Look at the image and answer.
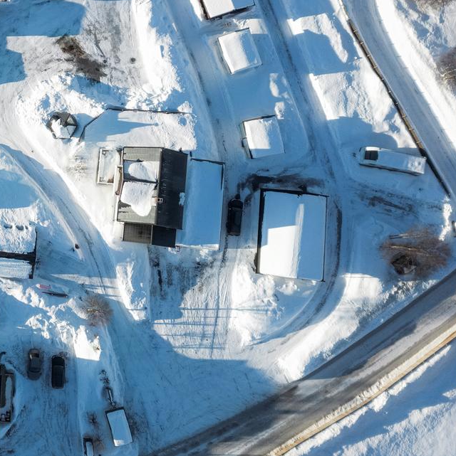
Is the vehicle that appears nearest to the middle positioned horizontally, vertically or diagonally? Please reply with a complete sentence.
What the image shows is the vehicle that appears nearest to the middle lying vertically.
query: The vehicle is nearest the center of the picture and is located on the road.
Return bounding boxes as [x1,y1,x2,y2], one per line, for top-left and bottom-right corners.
[223,197,243,235]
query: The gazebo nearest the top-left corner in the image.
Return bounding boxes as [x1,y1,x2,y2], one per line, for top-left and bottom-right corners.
[47,111,78,140]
